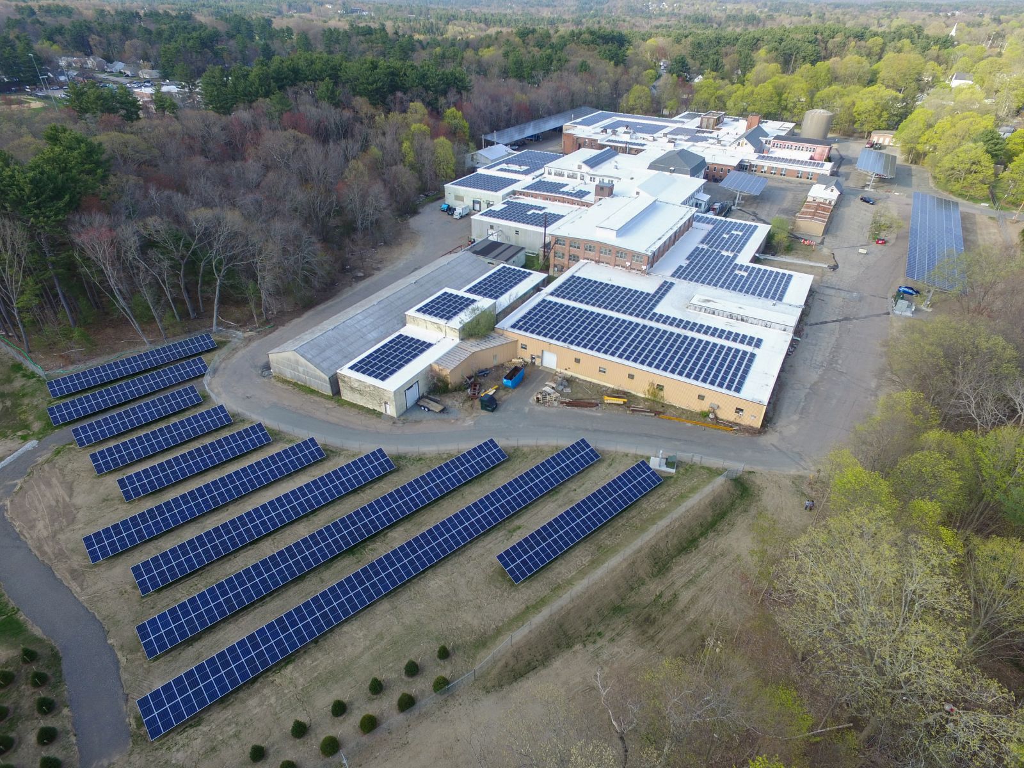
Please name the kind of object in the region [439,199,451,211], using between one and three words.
vehicle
